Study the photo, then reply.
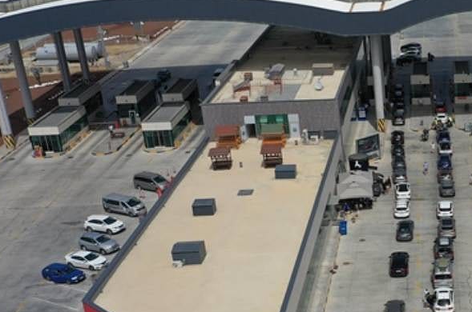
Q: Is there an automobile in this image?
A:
Yes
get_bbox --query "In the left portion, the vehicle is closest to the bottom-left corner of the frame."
[44,259,86,283]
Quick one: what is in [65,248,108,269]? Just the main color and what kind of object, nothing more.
white car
